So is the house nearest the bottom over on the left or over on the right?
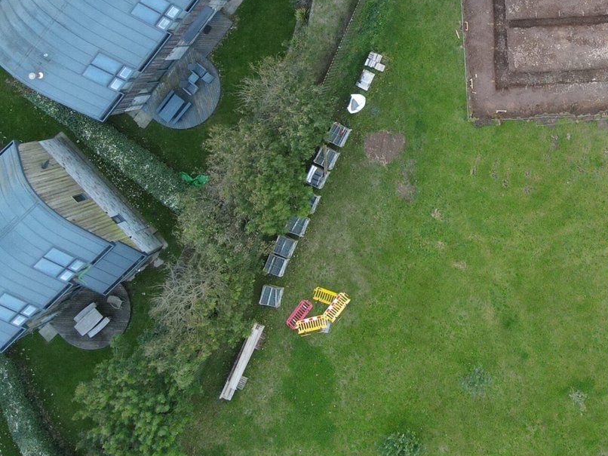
left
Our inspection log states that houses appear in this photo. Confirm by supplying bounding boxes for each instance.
[0,125,178,356]
[0,0,236,123]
